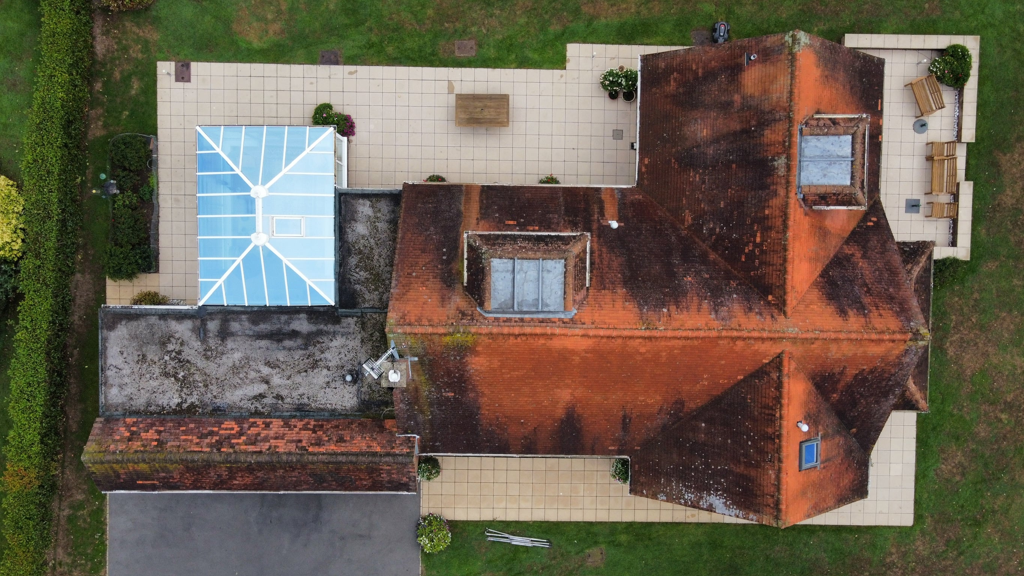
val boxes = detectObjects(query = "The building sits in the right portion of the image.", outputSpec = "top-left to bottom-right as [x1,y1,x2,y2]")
[385,30,937,529]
